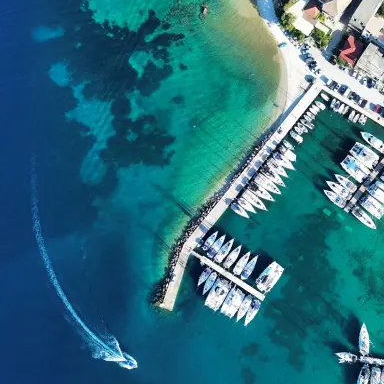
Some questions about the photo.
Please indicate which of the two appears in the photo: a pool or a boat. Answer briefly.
boat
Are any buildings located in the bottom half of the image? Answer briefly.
No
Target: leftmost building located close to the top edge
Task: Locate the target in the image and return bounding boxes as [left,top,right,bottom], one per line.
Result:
[291,0,329,39]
